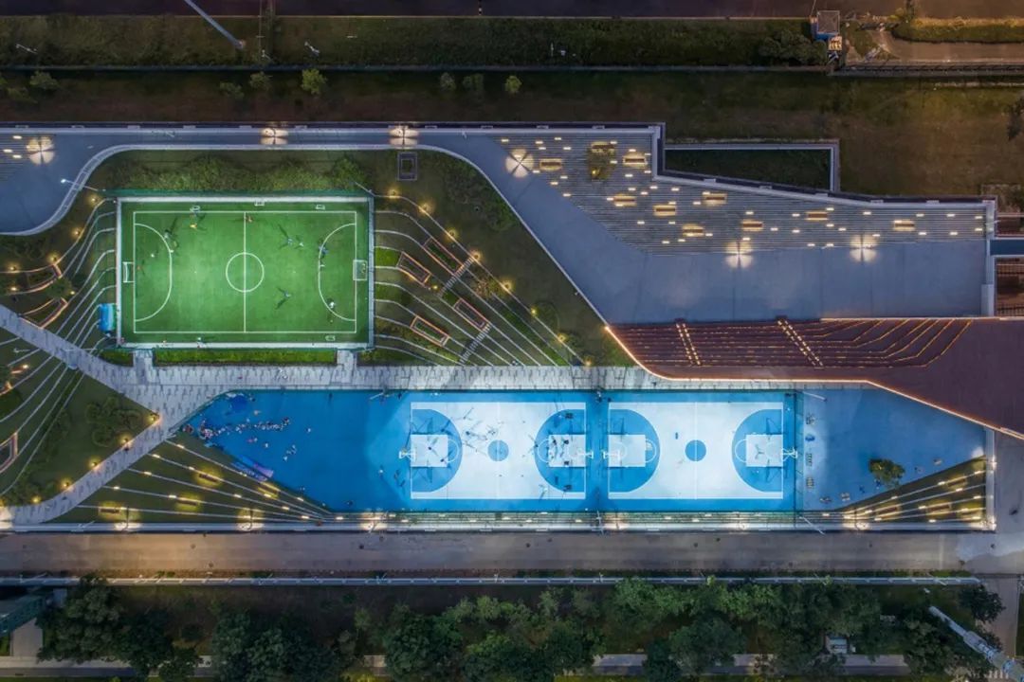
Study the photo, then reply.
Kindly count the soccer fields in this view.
1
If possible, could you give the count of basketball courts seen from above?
2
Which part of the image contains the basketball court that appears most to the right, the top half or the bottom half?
bottom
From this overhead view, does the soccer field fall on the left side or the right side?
left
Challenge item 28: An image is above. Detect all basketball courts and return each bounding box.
[608,402,784,499]
[410,402,586,499]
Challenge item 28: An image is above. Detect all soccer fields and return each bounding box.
[115,197,375,348]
